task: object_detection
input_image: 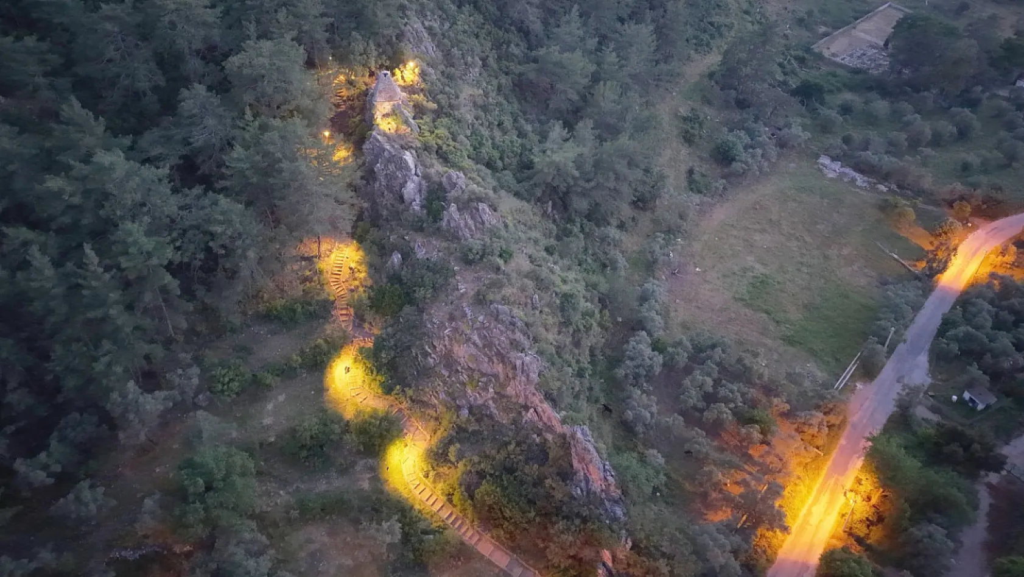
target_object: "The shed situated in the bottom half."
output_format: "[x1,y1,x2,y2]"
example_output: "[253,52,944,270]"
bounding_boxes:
[962,389,1002,415]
